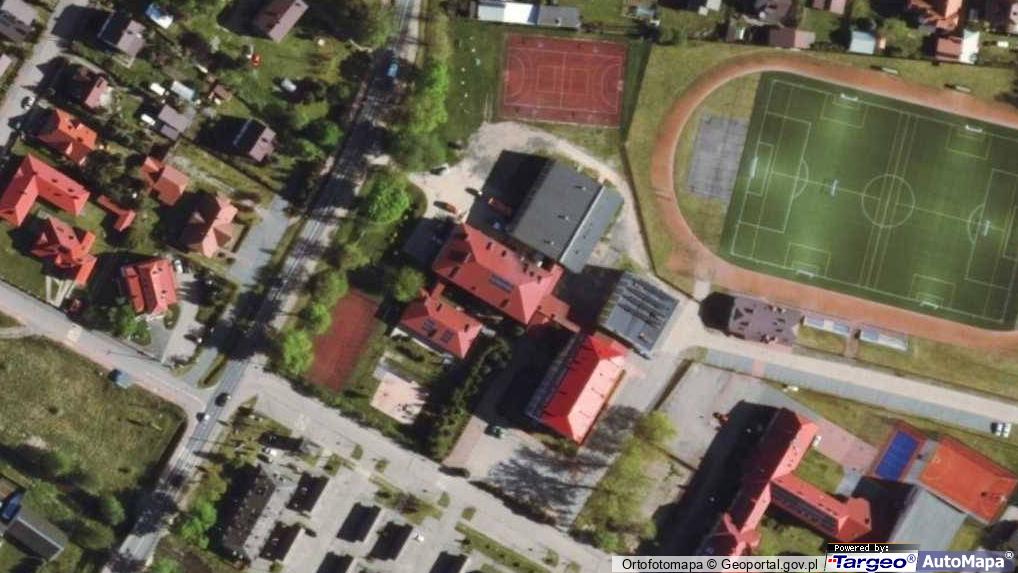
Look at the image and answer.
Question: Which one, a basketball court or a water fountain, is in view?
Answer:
basketball court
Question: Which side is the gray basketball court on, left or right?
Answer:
right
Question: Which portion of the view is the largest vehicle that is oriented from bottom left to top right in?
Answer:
bottom left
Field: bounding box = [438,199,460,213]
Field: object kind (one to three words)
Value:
vehicle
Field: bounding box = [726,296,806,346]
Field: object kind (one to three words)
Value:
building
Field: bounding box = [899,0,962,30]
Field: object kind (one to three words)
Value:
house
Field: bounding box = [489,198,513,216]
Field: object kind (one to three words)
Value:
vehicle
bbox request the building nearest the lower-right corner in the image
[879,487,967,573]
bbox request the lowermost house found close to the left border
[5,502,69,561]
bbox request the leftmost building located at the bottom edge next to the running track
[673,408,871,573]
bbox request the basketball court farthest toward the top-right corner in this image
[687,115,750,198]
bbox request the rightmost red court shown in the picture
[920,437,1017,524]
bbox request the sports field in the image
[726,70,1018,334]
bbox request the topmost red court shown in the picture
[498,34,628,127]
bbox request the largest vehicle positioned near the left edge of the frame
[2,492,23,518]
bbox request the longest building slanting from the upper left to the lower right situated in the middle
[432,223,581,333]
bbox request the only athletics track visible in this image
[646,48,1018,364]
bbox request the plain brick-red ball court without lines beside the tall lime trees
[306,287,379,391]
